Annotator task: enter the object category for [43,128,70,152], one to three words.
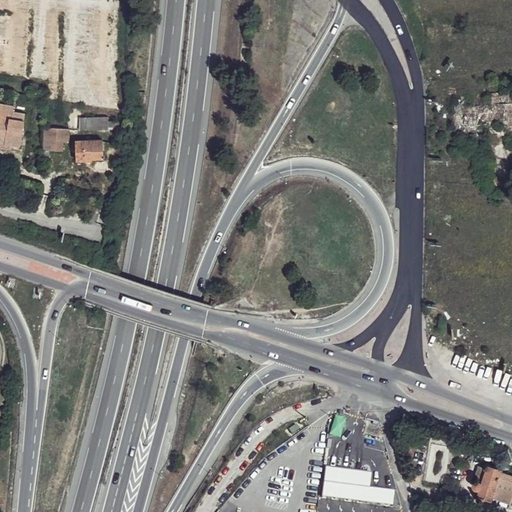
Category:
house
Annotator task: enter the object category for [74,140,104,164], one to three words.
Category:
house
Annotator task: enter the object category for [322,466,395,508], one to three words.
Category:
building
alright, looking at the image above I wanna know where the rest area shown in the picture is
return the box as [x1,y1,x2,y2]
[321,413,401,512]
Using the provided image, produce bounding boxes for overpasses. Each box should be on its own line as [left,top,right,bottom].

[84,268,264,358]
